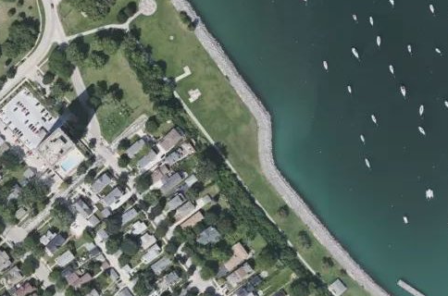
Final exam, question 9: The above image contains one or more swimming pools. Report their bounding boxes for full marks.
[60,154,78,172]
